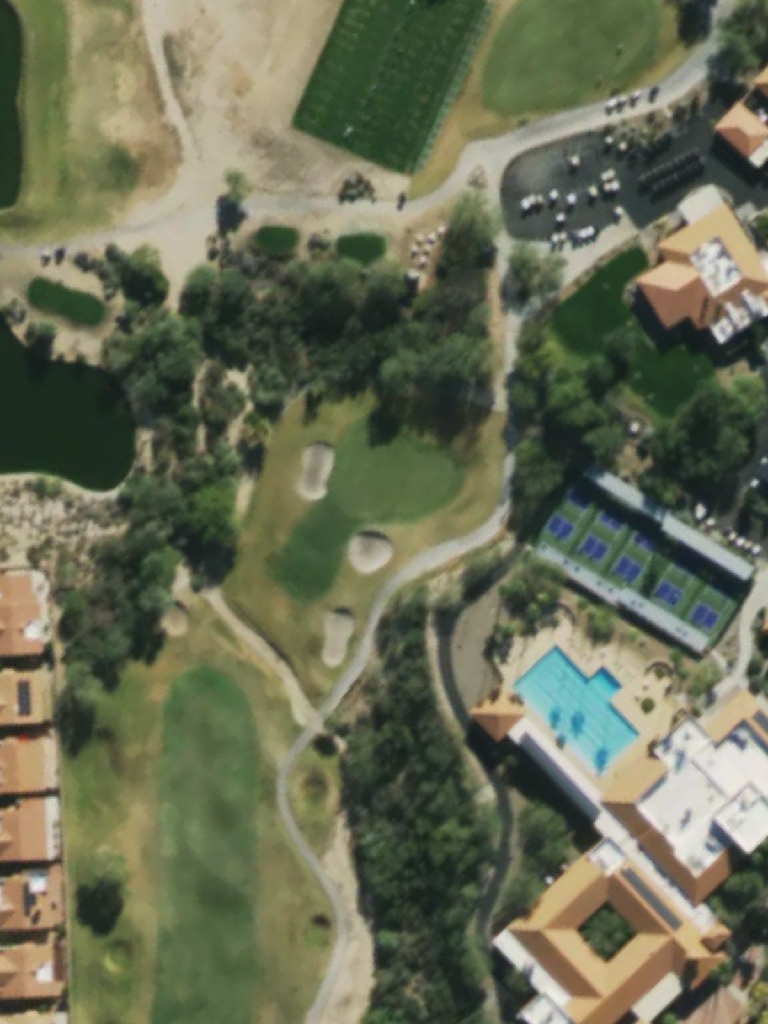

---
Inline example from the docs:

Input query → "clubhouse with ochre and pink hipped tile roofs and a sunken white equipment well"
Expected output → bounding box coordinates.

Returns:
[638,183,768,344]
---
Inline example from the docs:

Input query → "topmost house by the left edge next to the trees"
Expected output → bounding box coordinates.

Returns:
[0,570,51,656]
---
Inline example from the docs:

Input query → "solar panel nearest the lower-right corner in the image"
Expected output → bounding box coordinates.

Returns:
[621,869,684,932]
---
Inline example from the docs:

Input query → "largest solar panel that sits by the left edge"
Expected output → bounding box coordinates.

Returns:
[17,680,29,715]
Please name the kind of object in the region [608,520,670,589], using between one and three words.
sports court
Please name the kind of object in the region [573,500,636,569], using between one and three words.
sports court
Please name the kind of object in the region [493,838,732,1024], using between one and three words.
building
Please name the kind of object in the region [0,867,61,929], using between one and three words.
house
